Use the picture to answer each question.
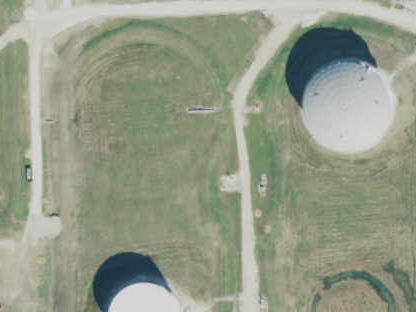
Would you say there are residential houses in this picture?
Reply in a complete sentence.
No, there's no residential house here.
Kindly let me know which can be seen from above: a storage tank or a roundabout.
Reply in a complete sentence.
It is a storage tank that can be seen here.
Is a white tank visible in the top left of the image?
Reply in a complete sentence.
No, there's no white tank to be seen in the top left of the image.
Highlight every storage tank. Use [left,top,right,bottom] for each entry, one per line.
[108,277,182,312]
[304,56,395,150]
